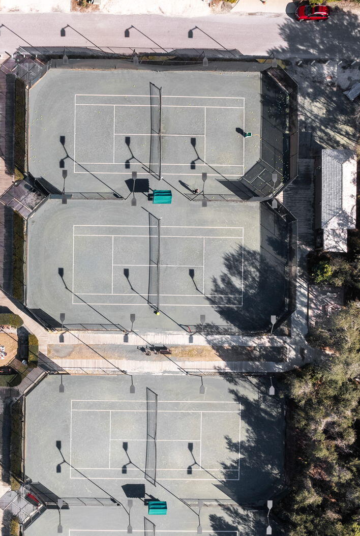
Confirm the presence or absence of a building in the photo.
Yes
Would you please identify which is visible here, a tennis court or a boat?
tennis court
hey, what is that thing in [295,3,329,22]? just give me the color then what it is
red car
